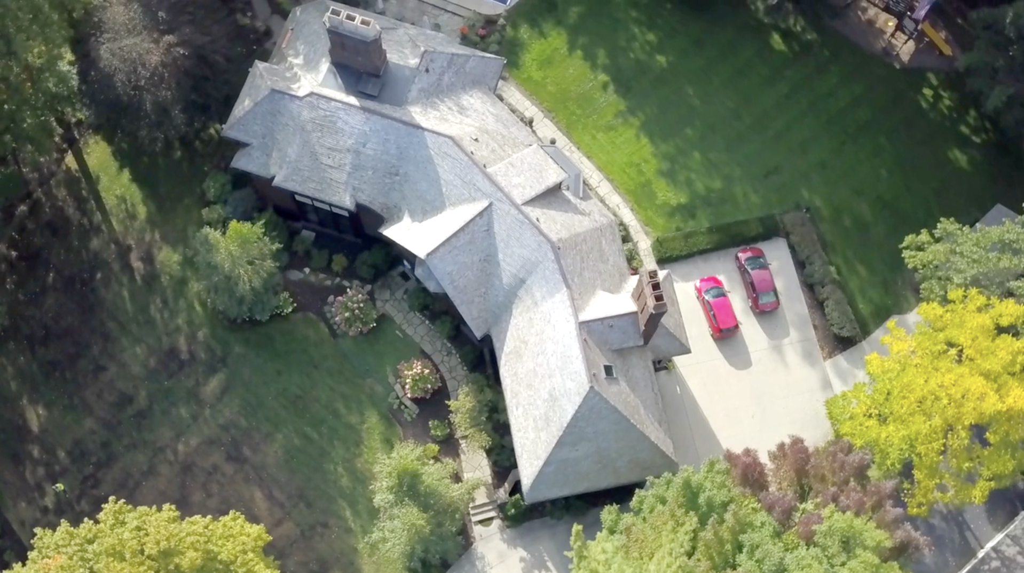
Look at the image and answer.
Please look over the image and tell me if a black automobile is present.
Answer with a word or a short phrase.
No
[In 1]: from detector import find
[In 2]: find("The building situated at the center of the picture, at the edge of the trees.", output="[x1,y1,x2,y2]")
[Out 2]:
[221,0,691,505]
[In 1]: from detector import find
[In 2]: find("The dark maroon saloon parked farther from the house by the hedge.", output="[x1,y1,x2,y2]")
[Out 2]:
[737,248,780,312]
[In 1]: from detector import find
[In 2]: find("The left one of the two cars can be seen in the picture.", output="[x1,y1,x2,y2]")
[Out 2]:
[696,276,739,337]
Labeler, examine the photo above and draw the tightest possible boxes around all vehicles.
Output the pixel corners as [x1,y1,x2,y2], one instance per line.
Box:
[696,276,739,337]
[737,248,780,312]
